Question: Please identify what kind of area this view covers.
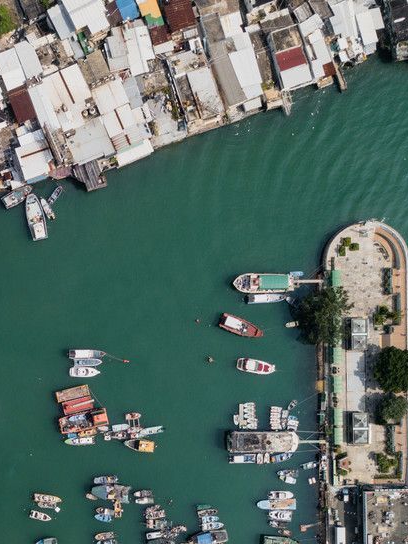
residential area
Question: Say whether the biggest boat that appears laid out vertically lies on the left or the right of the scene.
left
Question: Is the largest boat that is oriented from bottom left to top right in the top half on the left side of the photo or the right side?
left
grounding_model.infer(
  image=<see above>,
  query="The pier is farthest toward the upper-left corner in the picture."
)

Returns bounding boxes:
[73,160,106,193]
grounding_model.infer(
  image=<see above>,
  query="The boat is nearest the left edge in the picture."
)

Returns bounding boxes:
[1,185,33,209]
